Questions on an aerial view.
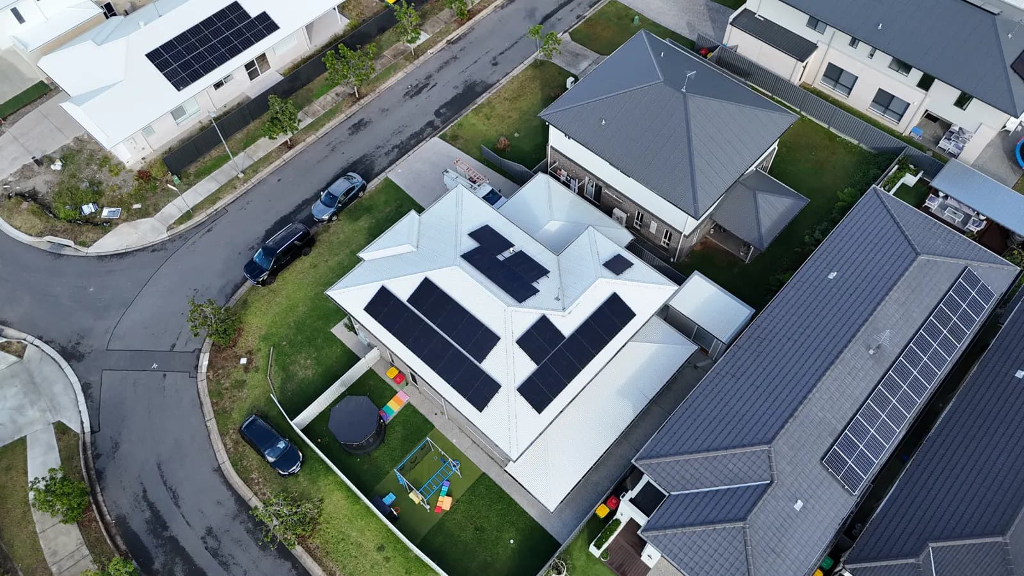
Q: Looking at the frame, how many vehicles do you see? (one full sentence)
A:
I count 4 vehicles.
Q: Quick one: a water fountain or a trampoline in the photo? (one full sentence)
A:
It is a trampoline that can be seen here.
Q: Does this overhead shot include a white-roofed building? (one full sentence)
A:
Yes, a white-roofed building appears in the view.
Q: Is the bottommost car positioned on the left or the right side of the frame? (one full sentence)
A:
The bottommost car is on the left side of the image.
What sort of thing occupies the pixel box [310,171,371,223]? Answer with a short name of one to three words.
car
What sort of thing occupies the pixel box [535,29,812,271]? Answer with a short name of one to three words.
house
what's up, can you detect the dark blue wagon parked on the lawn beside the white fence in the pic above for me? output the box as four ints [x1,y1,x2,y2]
[232,408,304,477]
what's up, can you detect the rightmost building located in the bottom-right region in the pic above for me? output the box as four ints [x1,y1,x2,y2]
[838,291,1024,576]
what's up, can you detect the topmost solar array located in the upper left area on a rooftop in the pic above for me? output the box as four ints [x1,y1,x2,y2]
[144,2,278,91]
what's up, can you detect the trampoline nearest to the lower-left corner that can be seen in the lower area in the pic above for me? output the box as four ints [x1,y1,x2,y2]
[334,397,389,457]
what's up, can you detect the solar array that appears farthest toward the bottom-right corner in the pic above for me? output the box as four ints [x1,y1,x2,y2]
[824,267,995,497]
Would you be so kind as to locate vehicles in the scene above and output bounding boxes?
[441,156,506,209]
[232,408,304,477]
[245,219,318,285]
[310,171,371,223]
